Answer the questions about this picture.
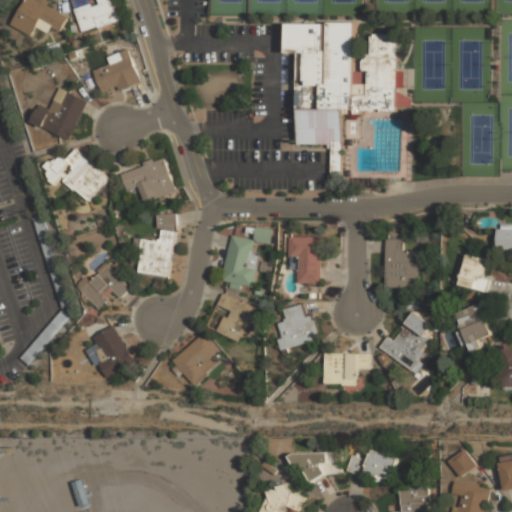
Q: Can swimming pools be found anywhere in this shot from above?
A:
Yes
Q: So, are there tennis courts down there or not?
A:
Yes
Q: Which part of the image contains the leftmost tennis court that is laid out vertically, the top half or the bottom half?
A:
top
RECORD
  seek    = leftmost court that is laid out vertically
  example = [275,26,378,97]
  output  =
[415,27,452,102]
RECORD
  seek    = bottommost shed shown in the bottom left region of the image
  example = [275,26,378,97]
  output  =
[70,480,90,506]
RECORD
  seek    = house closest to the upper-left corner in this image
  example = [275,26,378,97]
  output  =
[9,0,69,36]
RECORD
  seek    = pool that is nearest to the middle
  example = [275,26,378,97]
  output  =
[284,272,298,294]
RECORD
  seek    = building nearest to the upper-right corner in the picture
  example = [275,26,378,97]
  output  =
[346,33,411,119]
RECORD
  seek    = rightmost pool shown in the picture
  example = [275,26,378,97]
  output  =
[478,216,502,230]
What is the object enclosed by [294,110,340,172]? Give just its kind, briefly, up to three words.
building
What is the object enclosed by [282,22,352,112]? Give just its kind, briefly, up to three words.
building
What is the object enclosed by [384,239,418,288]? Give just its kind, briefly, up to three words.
house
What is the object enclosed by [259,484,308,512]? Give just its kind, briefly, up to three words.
house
